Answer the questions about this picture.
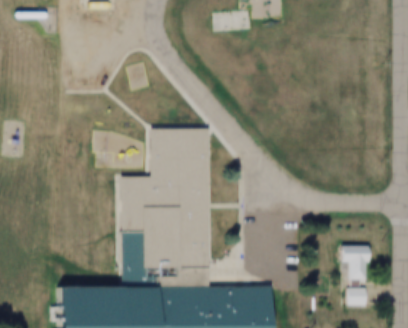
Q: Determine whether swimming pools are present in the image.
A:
No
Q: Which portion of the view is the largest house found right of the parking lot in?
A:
bottom right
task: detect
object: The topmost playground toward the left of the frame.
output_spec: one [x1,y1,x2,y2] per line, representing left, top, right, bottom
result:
[126,62,149,91]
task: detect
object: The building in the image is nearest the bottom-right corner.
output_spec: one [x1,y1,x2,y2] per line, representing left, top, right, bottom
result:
[344,287,368,308]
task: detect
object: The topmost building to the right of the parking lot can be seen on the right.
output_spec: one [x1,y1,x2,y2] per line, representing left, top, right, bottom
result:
[338,245,372,286]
